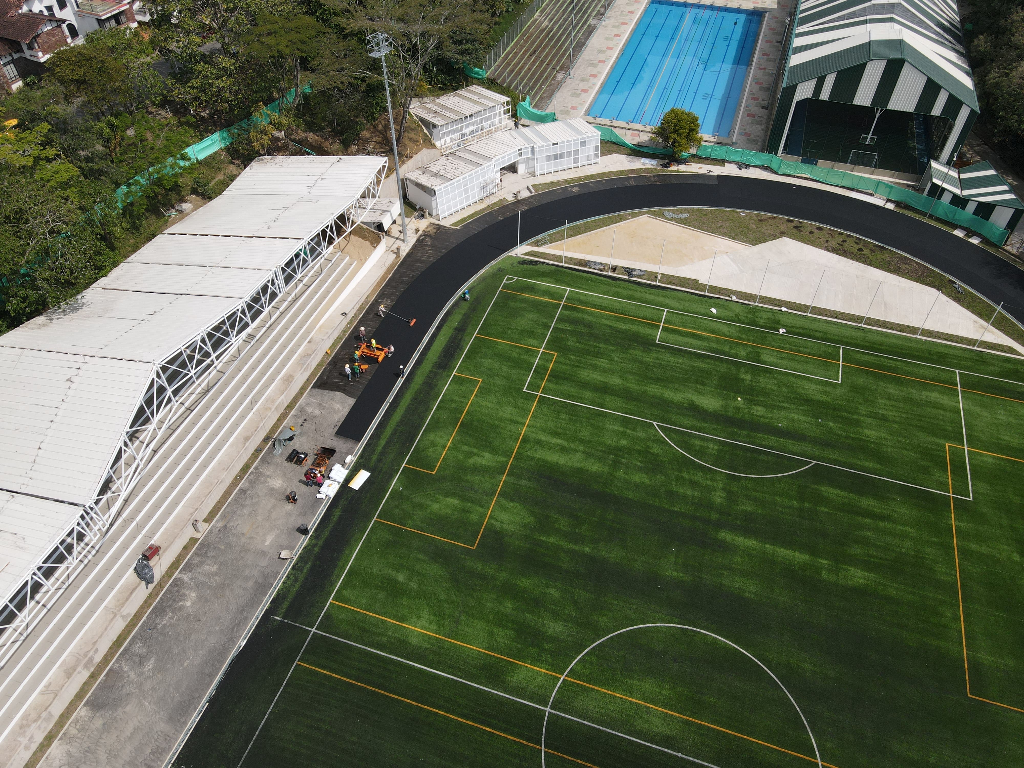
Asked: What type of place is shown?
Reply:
sports ground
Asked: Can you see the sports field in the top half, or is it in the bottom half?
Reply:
bottom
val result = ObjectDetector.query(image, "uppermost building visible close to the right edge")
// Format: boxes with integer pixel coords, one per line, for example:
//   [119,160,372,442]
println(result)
[764,0,982,183]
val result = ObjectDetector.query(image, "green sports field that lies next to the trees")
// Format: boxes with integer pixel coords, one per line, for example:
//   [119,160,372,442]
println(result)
[170,255,1024,768]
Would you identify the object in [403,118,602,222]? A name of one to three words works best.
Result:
building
